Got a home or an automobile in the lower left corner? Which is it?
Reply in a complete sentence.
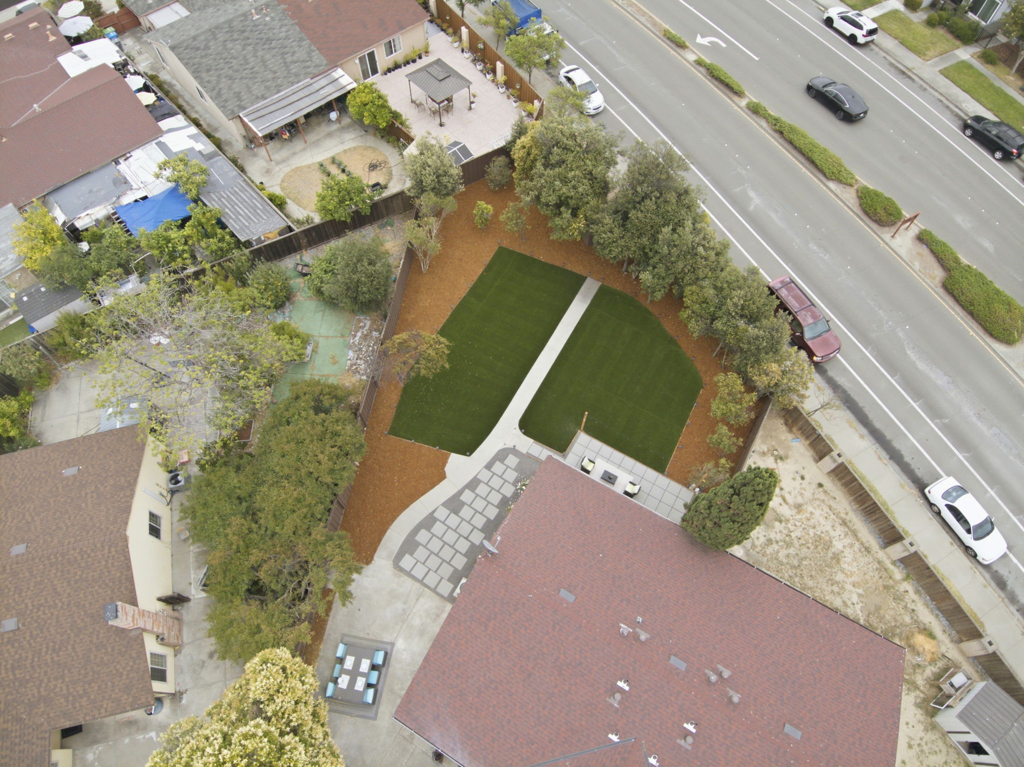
The feature located in the lower left corner is a home.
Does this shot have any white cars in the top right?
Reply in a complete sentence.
Yes, in the top right there is a white car.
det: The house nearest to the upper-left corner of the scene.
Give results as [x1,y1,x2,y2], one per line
[0,5,165,227]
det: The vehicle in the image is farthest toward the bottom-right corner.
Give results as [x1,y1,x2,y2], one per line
[926,481,1011,571]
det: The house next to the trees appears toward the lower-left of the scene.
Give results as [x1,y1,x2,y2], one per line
[0,421,184,767]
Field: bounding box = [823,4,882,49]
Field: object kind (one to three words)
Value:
car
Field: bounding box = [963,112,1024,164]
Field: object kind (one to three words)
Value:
car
